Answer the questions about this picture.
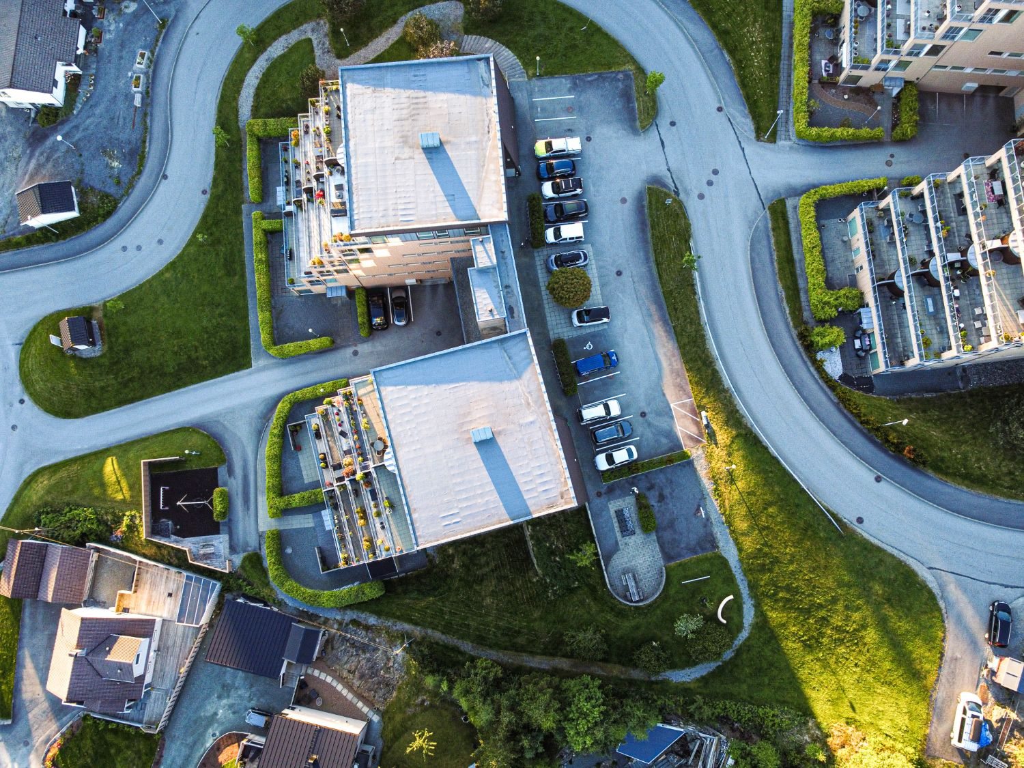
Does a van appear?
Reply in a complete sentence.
Yes, a van is visible in the scene.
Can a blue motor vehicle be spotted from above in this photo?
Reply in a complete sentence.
Yes, the frame does contain a blue motor vehicle.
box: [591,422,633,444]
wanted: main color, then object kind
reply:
blue car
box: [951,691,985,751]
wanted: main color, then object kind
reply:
white van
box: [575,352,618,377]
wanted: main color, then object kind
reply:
blue vehicle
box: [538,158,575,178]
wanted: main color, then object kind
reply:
blue car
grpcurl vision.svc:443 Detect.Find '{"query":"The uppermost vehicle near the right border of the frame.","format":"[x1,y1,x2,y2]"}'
[987,599,1015,648]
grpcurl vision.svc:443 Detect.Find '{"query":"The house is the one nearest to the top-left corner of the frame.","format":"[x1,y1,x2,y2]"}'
[2,0,94,117]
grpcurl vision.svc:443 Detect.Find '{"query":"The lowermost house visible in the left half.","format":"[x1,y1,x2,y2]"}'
[233,702,381,768]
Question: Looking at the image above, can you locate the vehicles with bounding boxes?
[595,446,638,469]
[987,599,1015,648]
[536,135,581,158]
[591,422,633,444]
[546,222,584,243]
[575,352,618,377]
[538,158,575,178]
[573,306,610,325]
[543,177,582,198]
[546,199,587,221]
[368,291,388,330]
[548,250,588,270]
[578,399,621,422]
[389,287,409,326]
[951,691,985,751]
